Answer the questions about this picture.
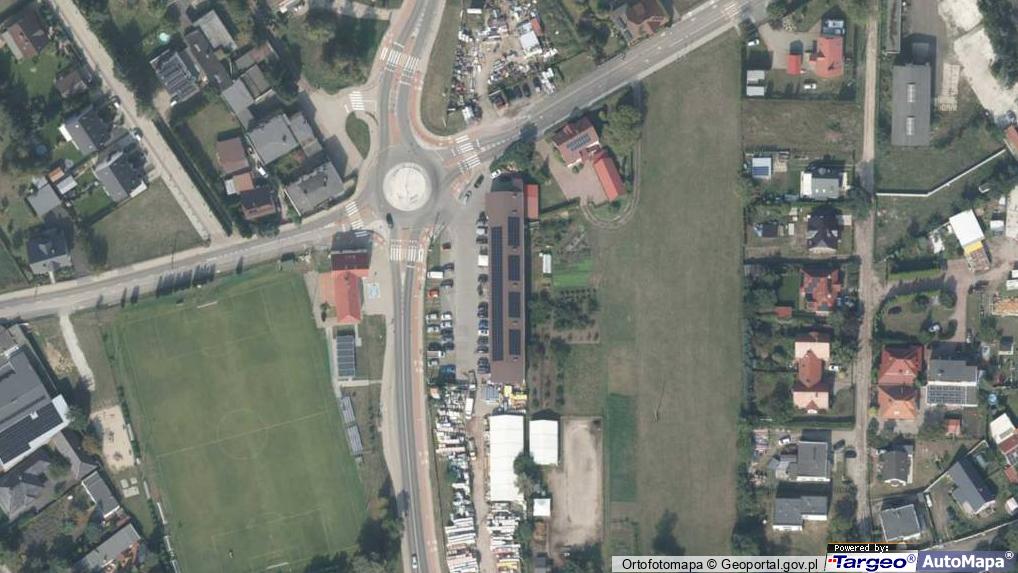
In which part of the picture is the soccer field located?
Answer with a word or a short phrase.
bottom left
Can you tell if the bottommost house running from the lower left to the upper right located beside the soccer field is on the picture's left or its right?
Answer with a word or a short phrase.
left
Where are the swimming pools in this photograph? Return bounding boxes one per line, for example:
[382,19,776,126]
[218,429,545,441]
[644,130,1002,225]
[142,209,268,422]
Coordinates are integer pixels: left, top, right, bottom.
[159,31,169,43]
[988,393,998,404]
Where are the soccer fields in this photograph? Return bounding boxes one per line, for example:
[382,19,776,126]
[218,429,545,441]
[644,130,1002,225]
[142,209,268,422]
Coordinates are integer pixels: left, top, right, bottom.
[110,267,370,573]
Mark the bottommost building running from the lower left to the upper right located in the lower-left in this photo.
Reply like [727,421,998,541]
[70,523,141,573]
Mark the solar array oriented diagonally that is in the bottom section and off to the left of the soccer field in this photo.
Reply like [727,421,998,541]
[0,403,61,462]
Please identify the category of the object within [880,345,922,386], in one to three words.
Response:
house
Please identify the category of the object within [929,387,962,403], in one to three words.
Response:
solar array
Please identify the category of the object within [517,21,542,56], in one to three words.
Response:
shed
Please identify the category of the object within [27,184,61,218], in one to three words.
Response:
building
